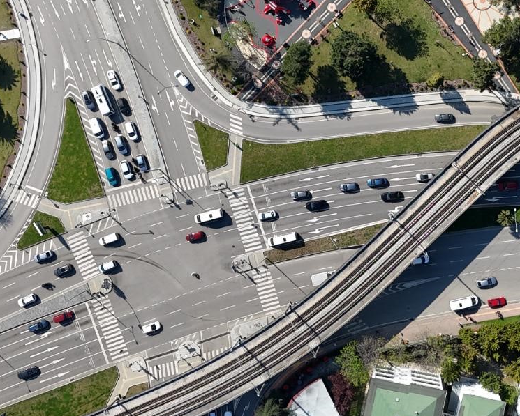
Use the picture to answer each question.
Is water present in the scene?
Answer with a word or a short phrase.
No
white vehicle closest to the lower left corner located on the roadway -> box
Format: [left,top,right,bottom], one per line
[19,294,38,307]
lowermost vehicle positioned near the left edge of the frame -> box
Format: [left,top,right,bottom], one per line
[17,366,40,380]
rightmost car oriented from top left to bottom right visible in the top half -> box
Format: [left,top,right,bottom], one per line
[172,69,191,89]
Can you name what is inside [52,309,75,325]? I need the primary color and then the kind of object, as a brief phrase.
red car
